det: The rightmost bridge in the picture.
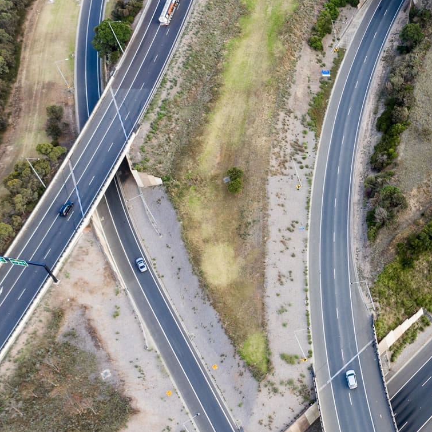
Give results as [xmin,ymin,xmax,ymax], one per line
[306,304,400,432]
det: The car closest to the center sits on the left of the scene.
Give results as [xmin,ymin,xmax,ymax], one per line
[135,255,149,273]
